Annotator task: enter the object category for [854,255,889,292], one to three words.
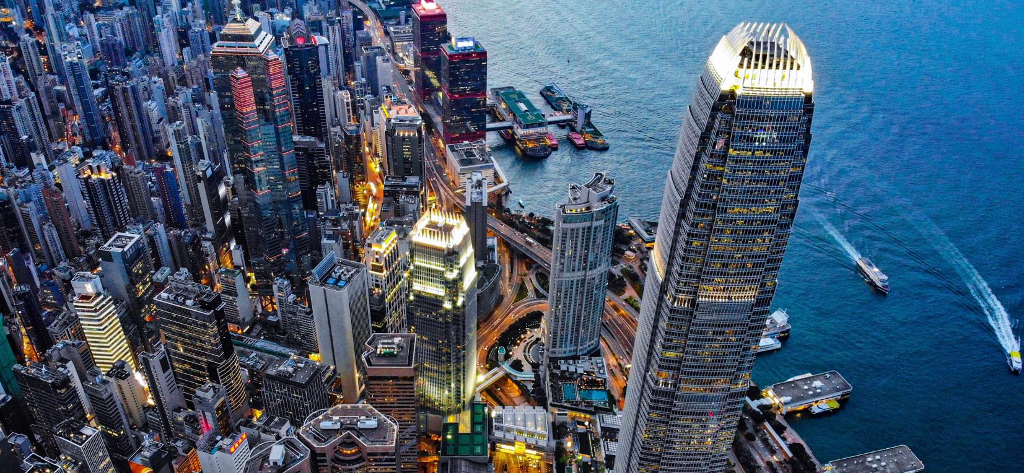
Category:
vessel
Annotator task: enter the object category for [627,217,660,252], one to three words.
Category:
building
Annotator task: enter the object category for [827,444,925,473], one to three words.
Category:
pier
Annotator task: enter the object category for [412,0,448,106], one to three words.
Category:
building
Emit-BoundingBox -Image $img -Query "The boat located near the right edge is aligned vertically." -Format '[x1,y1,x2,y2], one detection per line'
[1006,347,1022,374]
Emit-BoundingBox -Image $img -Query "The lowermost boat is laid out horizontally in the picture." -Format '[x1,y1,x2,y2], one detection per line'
[807,397,841,414]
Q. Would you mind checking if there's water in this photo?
Yes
